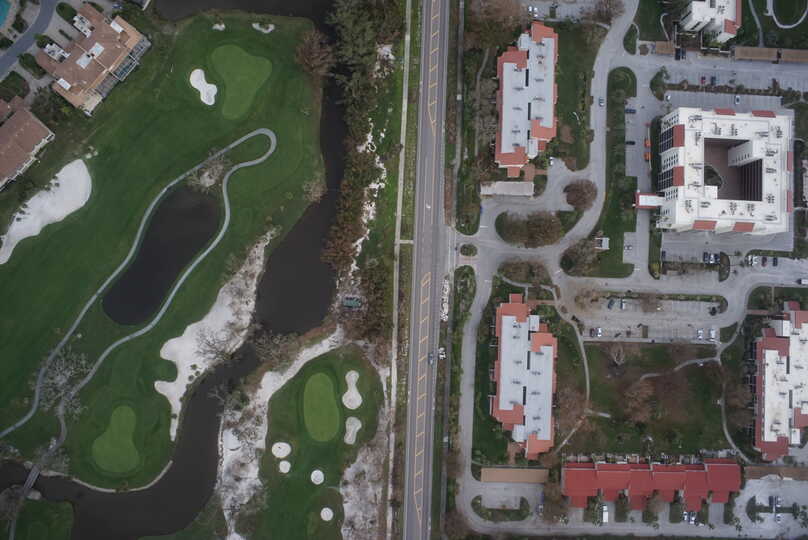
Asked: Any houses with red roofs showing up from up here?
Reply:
Yes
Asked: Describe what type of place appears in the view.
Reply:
golf course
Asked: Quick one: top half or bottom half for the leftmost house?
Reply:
top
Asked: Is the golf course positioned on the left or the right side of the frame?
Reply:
left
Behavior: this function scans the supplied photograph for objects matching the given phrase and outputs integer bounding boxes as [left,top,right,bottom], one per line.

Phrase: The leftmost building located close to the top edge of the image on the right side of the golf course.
[488,21,559,179]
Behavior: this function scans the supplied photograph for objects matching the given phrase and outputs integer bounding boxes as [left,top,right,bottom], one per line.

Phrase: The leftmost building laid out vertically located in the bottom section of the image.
[487,294,558,457]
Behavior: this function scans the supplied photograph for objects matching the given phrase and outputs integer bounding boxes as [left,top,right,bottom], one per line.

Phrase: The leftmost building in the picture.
[0,96,58,189]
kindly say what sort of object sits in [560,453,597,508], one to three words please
house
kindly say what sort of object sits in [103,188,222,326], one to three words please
pond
